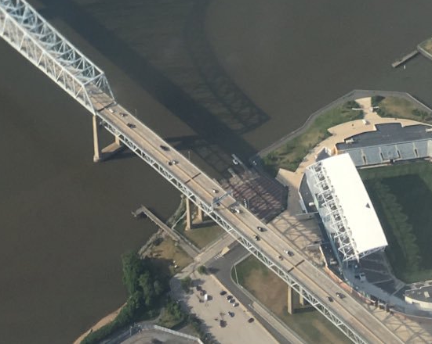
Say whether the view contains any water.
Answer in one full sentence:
Yes, the picture does contain water.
